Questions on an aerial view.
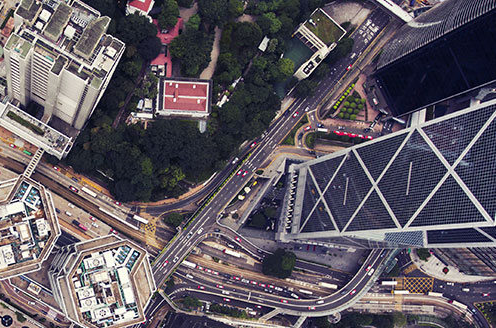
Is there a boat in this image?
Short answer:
No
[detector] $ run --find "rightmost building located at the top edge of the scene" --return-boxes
[376,0,496,116]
